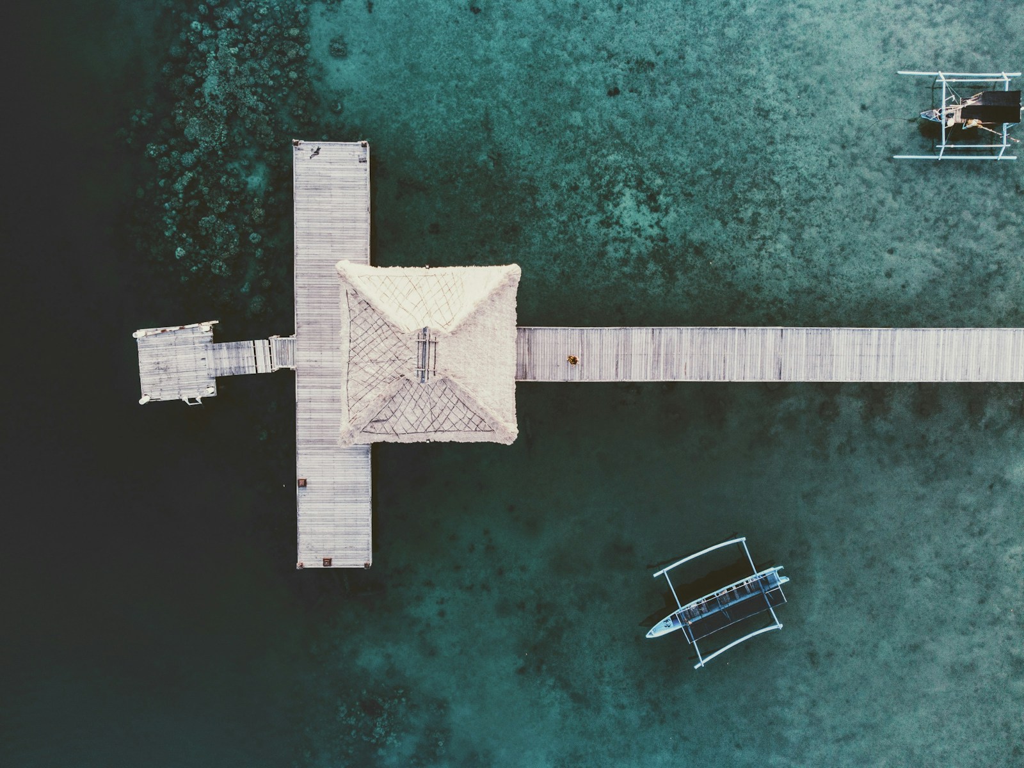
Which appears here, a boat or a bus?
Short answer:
boat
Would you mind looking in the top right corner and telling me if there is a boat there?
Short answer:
Yes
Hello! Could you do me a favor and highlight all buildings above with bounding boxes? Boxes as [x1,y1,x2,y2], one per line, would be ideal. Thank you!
[334,258,523,449]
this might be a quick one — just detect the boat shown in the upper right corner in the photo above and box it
[893,71,1024,160]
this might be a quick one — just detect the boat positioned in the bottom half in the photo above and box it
[643,537,789,669]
